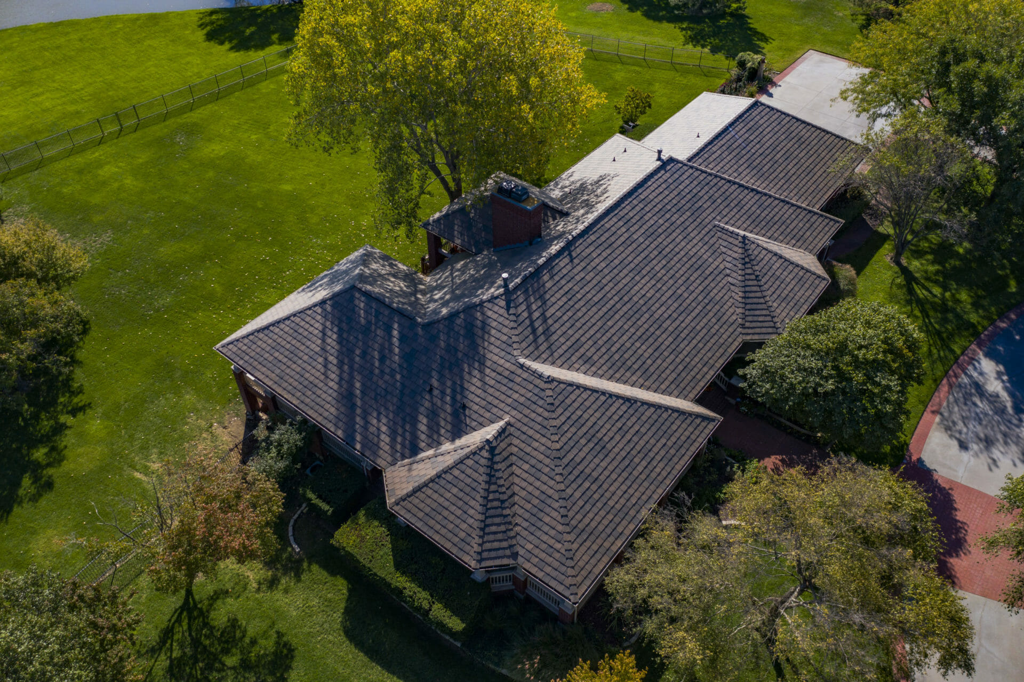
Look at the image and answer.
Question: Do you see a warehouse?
No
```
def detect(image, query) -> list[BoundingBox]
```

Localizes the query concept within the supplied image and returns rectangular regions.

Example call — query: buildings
[210,91,877,640]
